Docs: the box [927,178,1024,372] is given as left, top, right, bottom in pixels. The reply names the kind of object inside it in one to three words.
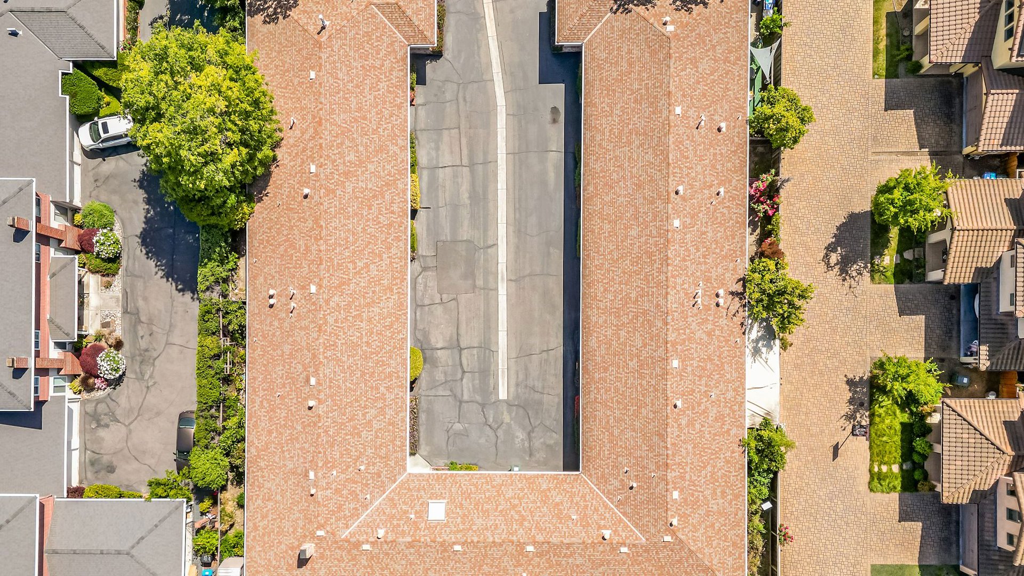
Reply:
house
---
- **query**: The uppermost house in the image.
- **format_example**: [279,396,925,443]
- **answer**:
[913,0,1024,155]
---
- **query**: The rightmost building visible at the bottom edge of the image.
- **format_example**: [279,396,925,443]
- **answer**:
[923,399,1024,576]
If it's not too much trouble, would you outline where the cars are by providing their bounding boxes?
[170,410,198,471]
[79,114,138,150]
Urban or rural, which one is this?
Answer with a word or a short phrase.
urban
